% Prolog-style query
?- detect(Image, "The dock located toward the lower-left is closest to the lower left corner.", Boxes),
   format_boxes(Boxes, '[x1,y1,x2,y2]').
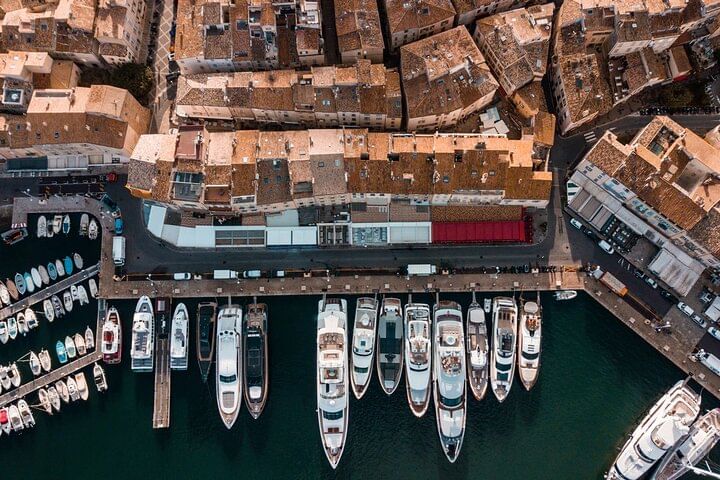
[0,353,103,407]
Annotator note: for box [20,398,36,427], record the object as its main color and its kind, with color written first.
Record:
white boat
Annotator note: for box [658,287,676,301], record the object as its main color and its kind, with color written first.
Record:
black car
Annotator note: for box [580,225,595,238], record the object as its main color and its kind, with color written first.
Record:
black vehicle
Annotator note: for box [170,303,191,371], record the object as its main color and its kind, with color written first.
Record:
white ship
